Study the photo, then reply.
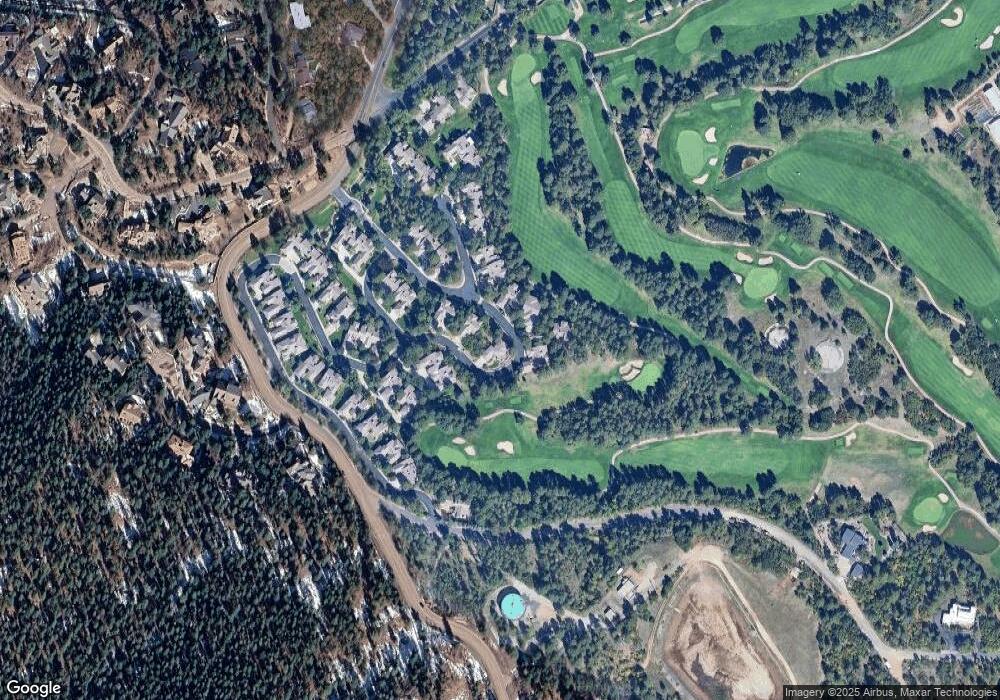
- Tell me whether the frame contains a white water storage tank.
No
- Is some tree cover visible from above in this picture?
Yes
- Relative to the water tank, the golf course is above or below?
above it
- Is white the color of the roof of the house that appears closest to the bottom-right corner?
Yes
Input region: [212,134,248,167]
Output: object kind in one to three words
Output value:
house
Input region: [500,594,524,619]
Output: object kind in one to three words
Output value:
water tank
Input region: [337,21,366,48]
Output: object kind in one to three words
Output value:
house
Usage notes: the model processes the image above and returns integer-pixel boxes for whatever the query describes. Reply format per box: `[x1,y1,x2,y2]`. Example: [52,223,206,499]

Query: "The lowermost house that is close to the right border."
[944,601,977,624]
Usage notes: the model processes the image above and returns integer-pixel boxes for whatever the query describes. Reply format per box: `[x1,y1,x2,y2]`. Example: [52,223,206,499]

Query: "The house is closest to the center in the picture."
[479,336,513,371]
